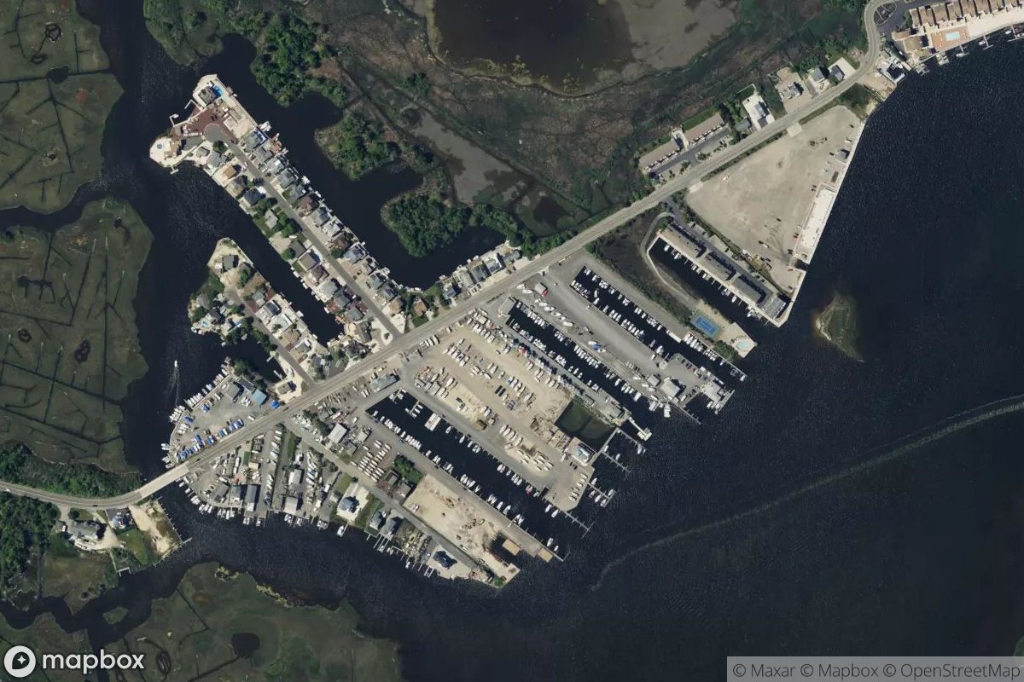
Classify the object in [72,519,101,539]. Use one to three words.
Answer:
house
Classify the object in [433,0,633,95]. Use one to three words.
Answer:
pond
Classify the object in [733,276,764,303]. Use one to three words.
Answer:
building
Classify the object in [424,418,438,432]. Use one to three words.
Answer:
ship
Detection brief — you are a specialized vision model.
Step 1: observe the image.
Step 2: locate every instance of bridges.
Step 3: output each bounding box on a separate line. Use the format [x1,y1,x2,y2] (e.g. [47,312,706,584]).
[139,462,192,499]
